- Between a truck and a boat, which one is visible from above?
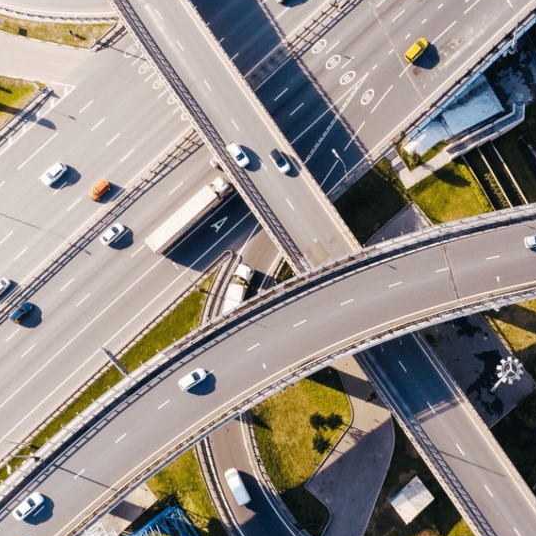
truck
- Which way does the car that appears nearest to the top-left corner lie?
at an angle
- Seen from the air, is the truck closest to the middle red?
No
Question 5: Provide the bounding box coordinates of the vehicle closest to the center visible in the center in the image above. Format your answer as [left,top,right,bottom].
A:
[215,263,251,311]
